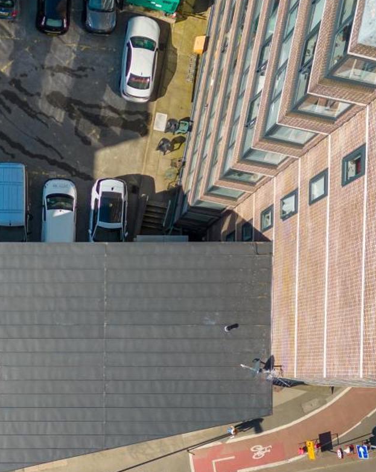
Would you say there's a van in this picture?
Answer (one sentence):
Yes, there's a van here.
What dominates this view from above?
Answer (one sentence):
The bulk of the photo consists of buildings.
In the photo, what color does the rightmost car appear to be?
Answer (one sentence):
The rightmost car looks white in the image.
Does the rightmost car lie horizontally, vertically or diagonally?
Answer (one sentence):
In this picture, the rightmost car is oriented vertically.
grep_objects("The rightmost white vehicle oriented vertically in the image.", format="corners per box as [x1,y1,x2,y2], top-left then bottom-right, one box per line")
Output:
[119,16,163,107]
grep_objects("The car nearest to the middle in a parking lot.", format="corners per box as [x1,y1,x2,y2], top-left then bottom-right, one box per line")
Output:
[88,177,132,241]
